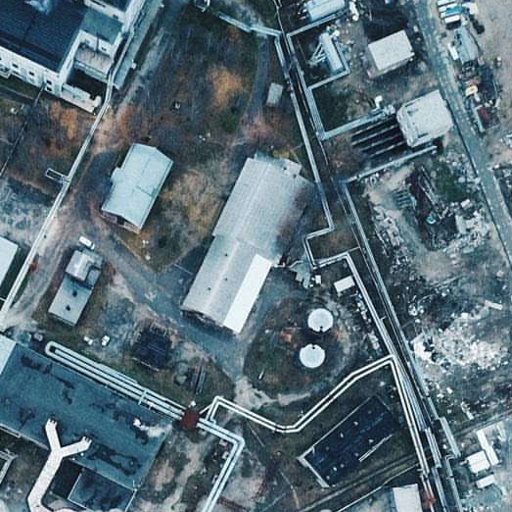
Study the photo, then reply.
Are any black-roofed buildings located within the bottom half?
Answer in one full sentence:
Yes, you'll find a black-roofed building within the bottom half.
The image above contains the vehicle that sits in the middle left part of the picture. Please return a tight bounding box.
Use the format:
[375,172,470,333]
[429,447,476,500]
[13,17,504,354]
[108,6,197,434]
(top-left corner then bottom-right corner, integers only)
[78,236,94,248]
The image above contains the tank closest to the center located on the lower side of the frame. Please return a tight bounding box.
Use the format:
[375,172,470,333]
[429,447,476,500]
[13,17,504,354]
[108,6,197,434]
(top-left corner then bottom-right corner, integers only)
[303,308,333,337]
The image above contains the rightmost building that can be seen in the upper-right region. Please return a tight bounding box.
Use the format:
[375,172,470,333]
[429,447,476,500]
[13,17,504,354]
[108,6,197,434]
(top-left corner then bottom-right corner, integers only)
[390,89,455,155]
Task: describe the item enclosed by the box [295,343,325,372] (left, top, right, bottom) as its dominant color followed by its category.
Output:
white water tank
